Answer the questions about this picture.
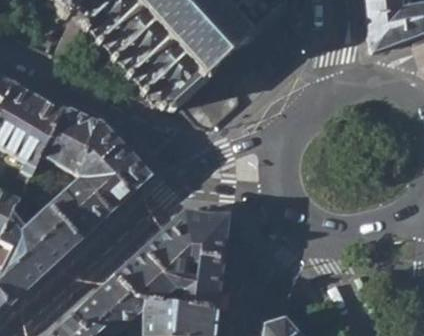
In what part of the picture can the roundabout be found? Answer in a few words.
right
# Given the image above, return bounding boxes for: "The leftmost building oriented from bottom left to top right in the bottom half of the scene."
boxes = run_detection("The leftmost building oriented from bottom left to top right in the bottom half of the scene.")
[0,177,94,290]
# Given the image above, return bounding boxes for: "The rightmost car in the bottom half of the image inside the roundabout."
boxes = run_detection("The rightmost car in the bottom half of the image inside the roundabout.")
[394,206,416,220]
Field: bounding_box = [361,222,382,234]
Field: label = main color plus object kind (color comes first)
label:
white vehicle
